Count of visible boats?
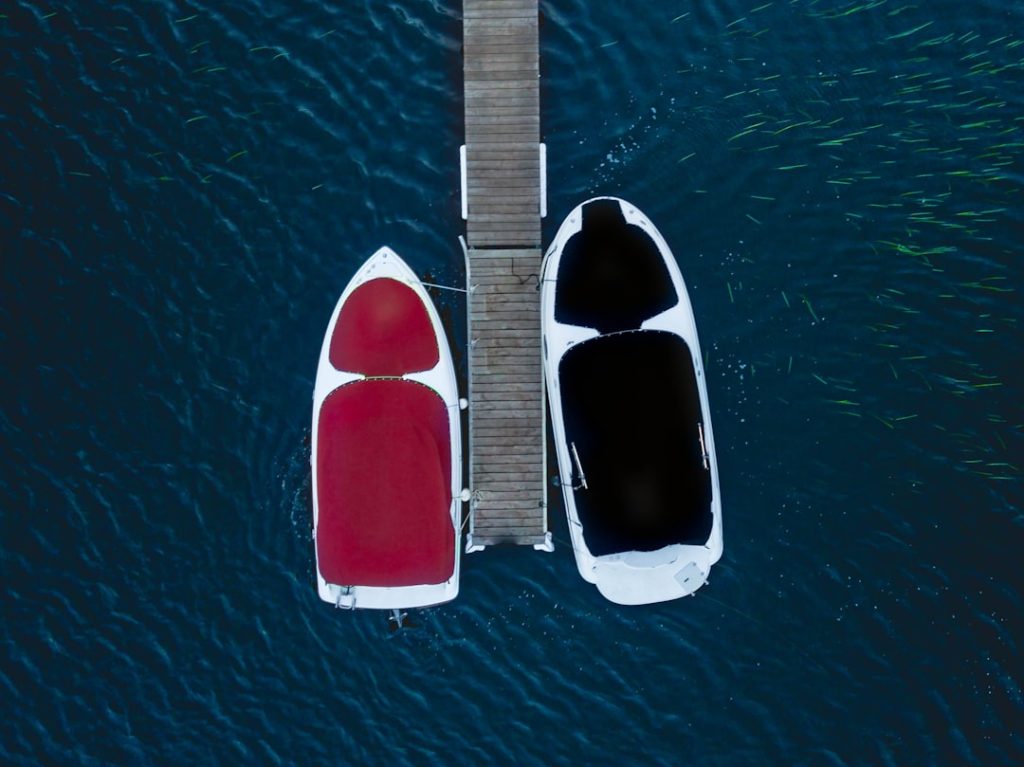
two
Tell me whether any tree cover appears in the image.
No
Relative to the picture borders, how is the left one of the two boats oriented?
up and down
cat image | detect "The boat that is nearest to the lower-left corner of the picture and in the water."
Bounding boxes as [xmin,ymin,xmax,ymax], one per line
[312,245,463,628]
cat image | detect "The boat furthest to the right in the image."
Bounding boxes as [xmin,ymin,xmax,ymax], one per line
[539,195,723,605]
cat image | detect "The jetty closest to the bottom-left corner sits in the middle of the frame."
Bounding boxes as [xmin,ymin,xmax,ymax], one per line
[458,236,554,553]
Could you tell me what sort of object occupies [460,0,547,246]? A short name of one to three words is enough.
pier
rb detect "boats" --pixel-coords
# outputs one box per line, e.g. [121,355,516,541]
[539,195,723,605]
[312,245,463,628]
